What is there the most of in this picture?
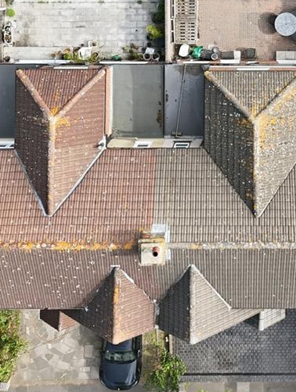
buildings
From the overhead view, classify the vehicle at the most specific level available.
car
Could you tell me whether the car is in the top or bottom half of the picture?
bottom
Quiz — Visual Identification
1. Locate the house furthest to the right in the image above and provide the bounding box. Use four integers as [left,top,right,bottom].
[153,56,296,346]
